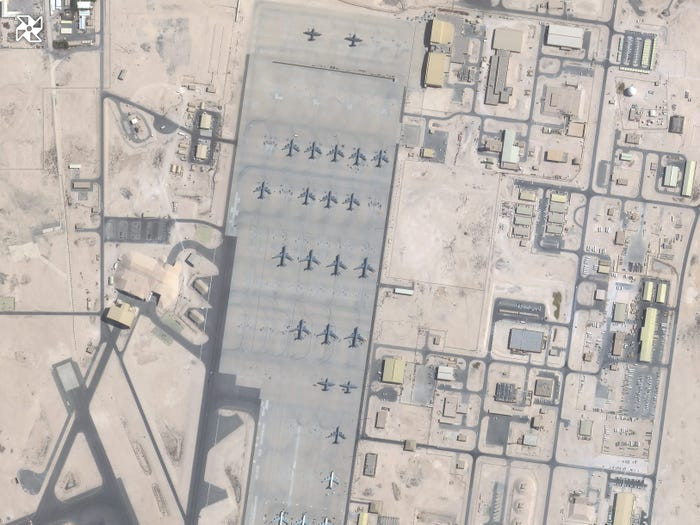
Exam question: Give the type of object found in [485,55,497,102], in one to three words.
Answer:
shed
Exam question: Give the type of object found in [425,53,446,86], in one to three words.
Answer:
hangar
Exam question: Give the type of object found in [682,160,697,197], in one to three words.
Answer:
building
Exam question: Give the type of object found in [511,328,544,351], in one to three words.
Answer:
building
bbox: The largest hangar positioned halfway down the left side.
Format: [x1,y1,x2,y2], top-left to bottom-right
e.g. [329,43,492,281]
[107,305,135,326]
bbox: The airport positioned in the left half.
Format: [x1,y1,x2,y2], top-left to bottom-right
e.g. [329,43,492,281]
[6,0,424,525]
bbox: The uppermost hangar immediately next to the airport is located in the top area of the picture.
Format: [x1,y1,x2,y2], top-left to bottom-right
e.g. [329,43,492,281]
[431,19,455,44]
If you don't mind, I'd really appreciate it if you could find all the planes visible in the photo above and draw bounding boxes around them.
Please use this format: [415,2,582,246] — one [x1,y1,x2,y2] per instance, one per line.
[294,514,310,525]
[319,191,337,208]
[345,327,364,348]
[290,319,310,341]
[282,139,299,157]
[354,258,375,279]
[371,150,388,167]
[342,193,360,211]
[253,182,271,200]
[349,148,366,165]
[272,246,293,267]
[299,250,320,271]
[340,381,358,394]
[323,472,340,489]
[317,378,335,391]
[304,28,321,41]
[326,145,344,163]
[328,427,345,444]
[273,512,290,525]
[317,324,337,345]
[304,142,321,159]
[345,33,362,46]
[326,255,347,276]
[297,187,314,206]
